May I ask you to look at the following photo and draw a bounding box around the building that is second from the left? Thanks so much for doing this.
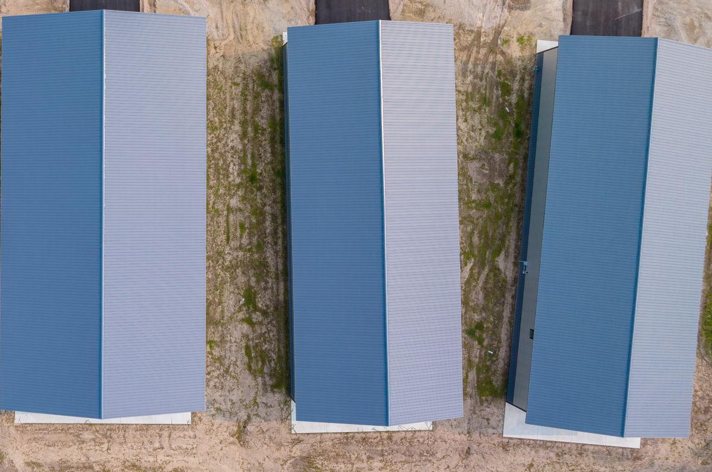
[282,19,463,434]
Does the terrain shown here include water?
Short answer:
No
